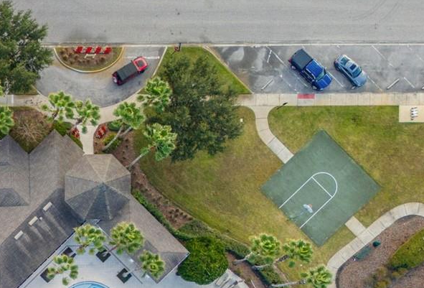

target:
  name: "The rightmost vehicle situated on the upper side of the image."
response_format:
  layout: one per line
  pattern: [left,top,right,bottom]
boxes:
[332,53,368,89]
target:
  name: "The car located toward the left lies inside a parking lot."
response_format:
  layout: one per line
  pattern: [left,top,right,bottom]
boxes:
[110,56,150,86]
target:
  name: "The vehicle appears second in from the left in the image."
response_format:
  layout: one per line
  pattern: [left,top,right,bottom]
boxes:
[287,47,333,93]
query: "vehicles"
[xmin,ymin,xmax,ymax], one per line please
[110,56,150,86]
[287,47,333,93]
[332,53,368,89]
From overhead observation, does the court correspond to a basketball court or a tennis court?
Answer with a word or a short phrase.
basketball court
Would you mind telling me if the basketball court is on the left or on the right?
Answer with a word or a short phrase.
right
